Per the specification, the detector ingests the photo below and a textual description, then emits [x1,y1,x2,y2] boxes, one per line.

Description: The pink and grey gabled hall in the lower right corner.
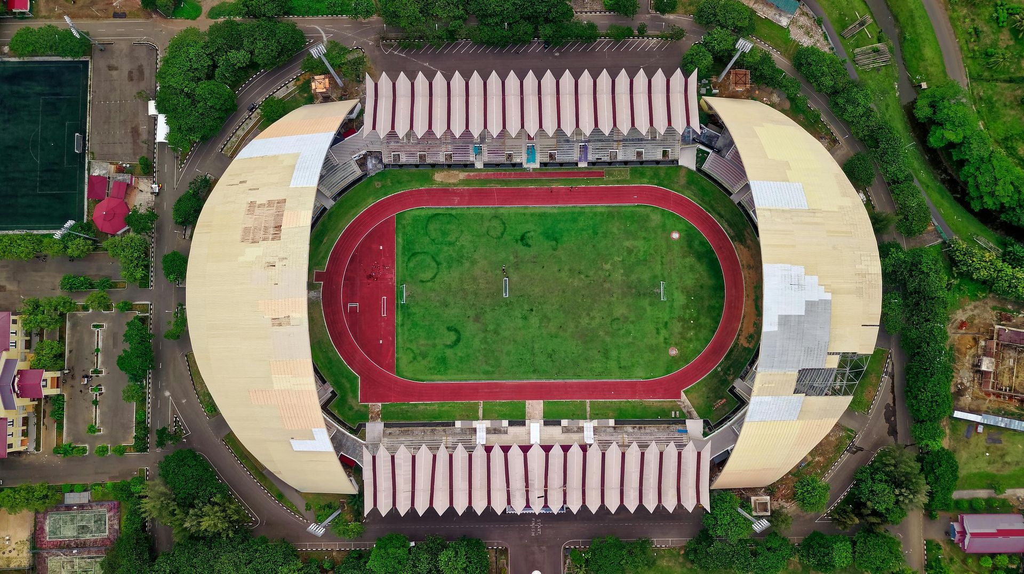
[952,514,1024,553]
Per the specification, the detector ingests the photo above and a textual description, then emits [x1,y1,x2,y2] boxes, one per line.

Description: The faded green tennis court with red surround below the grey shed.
[29,502,119,552]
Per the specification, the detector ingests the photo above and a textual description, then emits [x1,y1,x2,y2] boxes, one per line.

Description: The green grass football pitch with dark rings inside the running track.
[395,204,724,382]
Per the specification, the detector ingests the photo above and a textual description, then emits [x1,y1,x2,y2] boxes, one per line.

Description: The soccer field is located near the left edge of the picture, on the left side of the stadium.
[0,55,91,234]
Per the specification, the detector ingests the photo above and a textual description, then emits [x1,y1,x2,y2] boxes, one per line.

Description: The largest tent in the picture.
[155,114,170,144]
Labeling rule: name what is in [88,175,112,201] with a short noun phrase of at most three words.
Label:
shed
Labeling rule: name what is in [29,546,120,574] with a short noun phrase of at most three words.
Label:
tennis court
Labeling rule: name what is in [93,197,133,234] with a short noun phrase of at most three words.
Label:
building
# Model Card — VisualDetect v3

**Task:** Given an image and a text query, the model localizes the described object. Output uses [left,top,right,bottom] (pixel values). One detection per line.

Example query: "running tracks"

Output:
[314,185,745,404]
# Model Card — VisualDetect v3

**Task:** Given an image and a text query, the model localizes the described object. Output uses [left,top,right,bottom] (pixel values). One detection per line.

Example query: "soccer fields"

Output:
[0,55,91,234]
[395,204,724,382]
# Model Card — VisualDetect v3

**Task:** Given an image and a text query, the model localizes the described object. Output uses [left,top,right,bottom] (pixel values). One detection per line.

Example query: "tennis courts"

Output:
[29,502,119,552]
[29,546,120,574]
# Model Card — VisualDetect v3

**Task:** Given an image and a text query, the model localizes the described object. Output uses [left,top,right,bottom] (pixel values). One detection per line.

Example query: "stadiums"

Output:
[186,68,882,517]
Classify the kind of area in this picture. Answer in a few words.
sports ground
